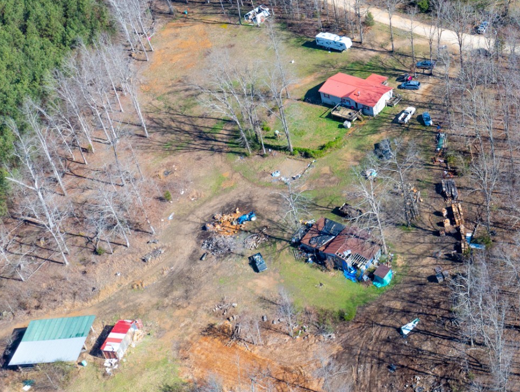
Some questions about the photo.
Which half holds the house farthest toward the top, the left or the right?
right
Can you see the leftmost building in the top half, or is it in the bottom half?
bottom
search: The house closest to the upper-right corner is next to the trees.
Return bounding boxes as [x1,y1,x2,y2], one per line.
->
[319,75,400,125]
